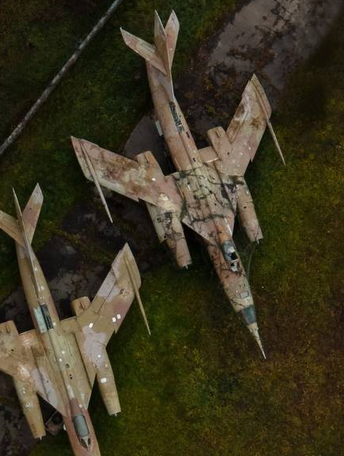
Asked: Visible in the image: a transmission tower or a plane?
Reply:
plane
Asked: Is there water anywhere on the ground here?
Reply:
No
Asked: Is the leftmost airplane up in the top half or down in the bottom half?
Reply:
bottom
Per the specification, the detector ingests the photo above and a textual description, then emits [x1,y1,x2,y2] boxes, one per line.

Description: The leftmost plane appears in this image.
[0,181,152,456]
